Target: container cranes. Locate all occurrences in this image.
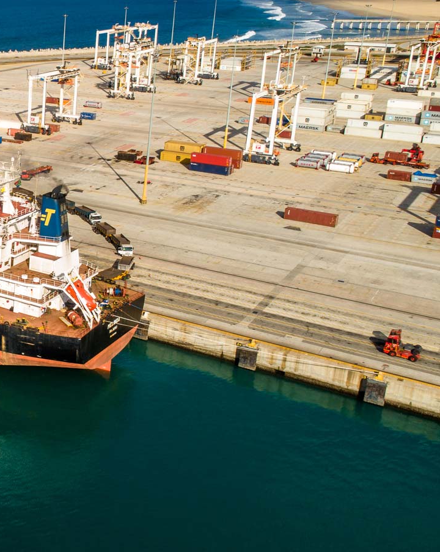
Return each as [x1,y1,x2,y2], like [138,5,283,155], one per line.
[399,37,440,90]
[91,27,127,69]
[24,62,82,134]
[175,33,217,82]
[125,22,158,63]
[245,80,309,163]
[108,45,155,97]
[105,36,149,86]
[259,44,302,97]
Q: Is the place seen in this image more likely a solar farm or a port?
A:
port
